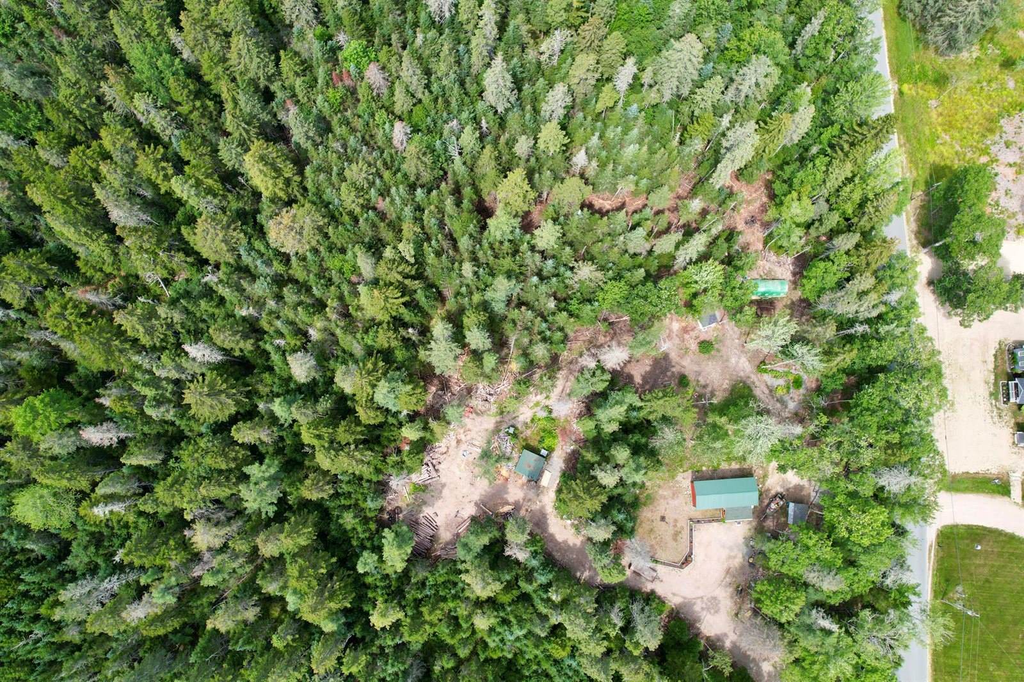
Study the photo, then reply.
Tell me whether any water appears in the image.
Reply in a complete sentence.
No, there's no water in this view.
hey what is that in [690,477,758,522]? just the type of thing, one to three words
building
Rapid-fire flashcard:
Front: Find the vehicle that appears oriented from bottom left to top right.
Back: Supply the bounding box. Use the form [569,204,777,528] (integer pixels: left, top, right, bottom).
[756,490,791,521]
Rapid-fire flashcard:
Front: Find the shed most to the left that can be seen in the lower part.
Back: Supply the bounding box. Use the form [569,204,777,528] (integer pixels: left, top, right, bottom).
[515,449,545,480]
